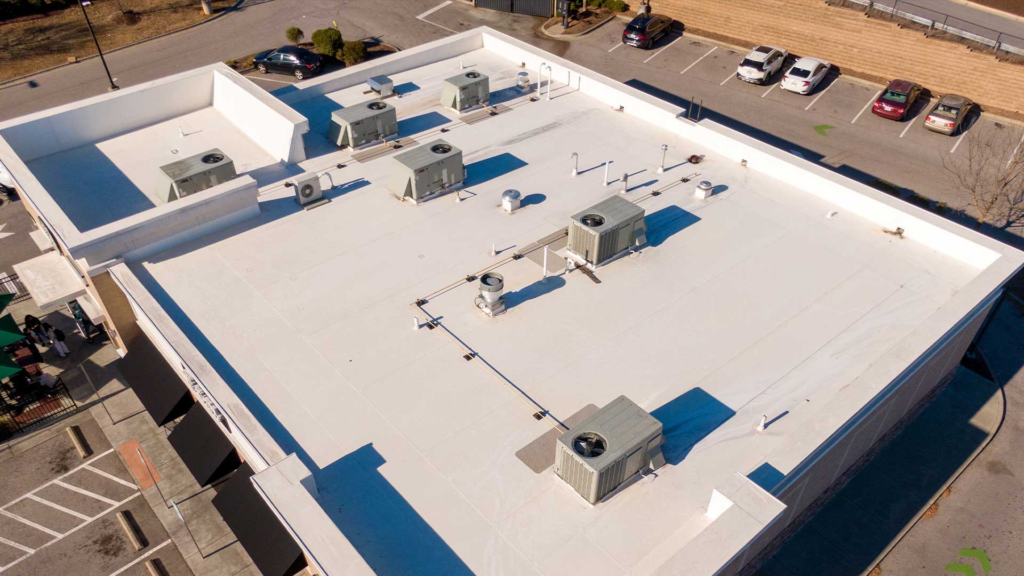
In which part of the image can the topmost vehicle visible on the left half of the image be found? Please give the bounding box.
[249,44,326,77]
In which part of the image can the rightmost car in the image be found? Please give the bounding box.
[920,96,977,140]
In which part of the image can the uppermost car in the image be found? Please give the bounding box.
[624,12,677,51]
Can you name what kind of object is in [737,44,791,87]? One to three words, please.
car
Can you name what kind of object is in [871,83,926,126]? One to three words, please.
car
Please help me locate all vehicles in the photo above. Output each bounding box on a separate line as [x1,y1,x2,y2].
[737,44,791,87]
[624,12,677,51]
[920,96,977,140]
[778,60,832,99]
[871,83,926,126]
[249,44,326,77]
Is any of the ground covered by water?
No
